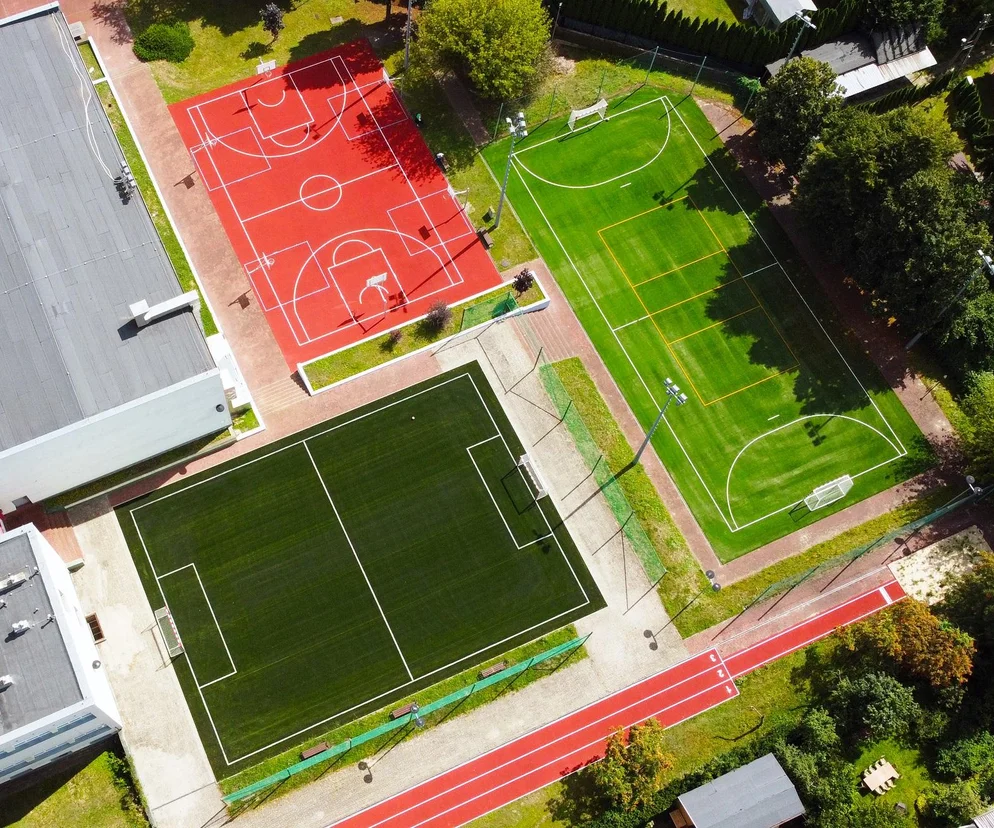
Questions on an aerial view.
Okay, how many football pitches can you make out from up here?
2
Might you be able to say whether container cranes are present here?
No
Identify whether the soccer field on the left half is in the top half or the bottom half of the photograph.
bottom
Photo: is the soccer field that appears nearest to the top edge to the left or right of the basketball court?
on the right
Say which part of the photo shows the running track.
bottom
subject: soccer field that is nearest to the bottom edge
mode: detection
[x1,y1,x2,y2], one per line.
[116,360,606,779]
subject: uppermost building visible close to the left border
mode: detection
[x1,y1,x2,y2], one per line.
[0,0,231,518]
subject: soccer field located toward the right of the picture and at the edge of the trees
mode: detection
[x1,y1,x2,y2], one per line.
[480,86,937,563]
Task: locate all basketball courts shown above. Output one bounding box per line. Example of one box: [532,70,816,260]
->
[170,39,502,371]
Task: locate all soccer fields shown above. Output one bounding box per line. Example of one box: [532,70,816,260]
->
[480,86,937,563]
[116,360,606,779]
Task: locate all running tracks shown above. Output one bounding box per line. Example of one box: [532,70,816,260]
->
[329,647,741,828]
